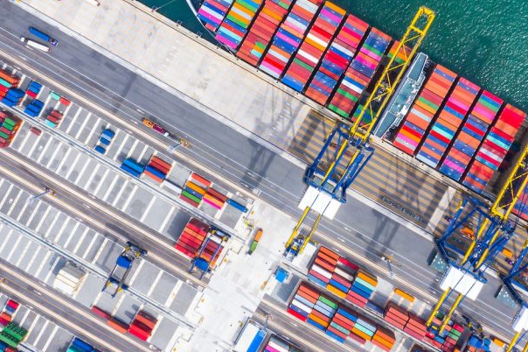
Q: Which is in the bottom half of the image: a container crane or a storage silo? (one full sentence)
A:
The one visible in the bottom half of the image is a container crane.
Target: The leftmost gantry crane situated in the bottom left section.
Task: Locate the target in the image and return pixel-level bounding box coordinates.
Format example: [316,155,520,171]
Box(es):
[98,239,148,300]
